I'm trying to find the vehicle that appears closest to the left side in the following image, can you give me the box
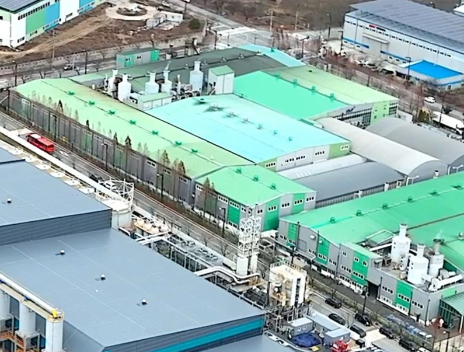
[29,133,51,149]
